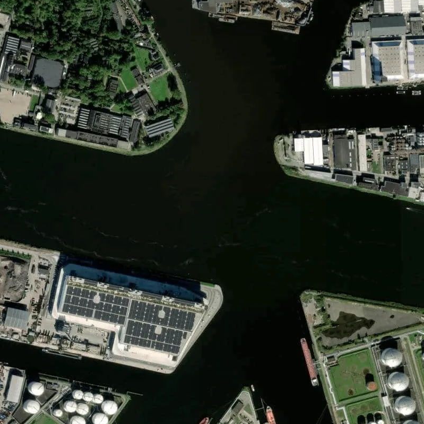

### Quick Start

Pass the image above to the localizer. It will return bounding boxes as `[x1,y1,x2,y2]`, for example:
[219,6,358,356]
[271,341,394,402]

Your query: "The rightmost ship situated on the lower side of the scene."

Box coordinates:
[301,338,318,387]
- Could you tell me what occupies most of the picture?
water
